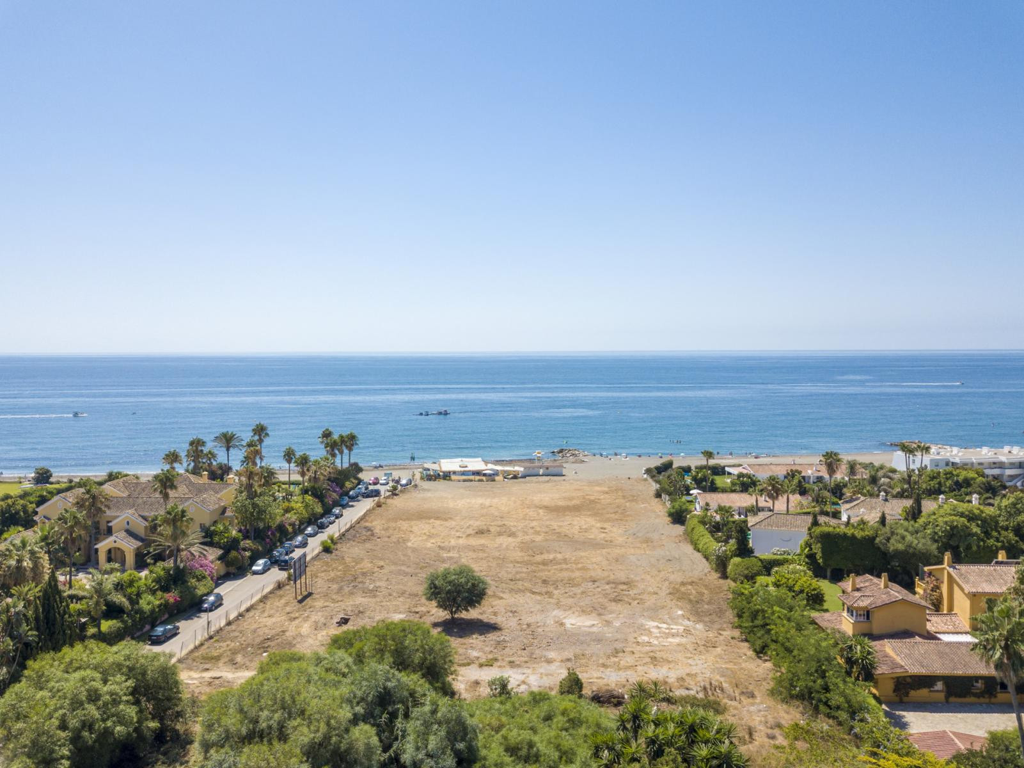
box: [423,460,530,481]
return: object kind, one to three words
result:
building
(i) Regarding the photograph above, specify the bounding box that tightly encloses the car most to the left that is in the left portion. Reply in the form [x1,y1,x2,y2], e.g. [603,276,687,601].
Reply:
[149,625,180,643]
